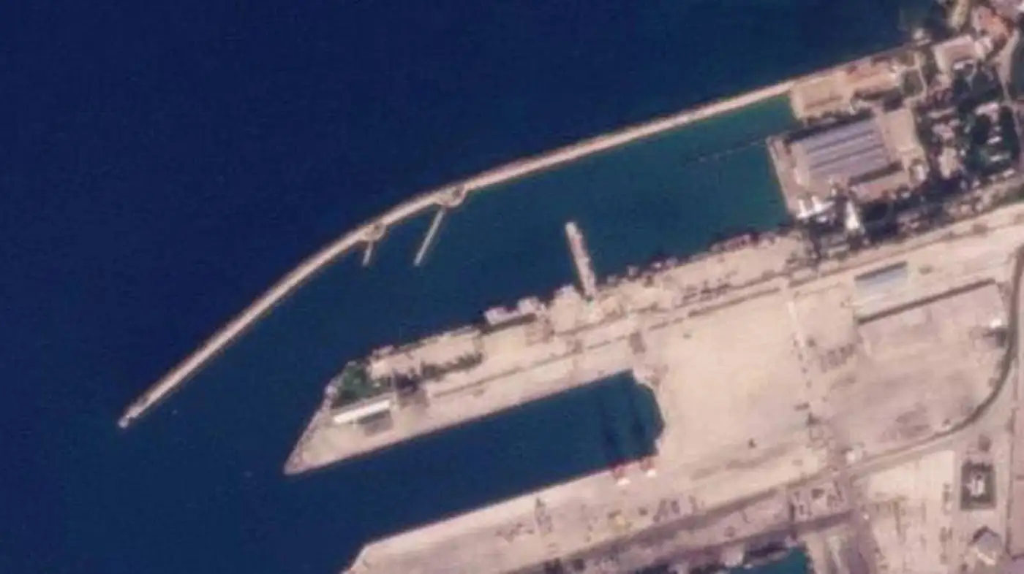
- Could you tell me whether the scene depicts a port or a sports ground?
port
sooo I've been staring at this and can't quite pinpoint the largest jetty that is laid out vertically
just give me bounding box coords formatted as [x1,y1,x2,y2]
[567,223,596,304]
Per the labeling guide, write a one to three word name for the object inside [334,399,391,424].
shed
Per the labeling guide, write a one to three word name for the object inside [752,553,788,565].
ship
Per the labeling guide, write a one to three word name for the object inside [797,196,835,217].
building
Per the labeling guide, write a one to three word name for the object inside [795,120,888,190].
building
